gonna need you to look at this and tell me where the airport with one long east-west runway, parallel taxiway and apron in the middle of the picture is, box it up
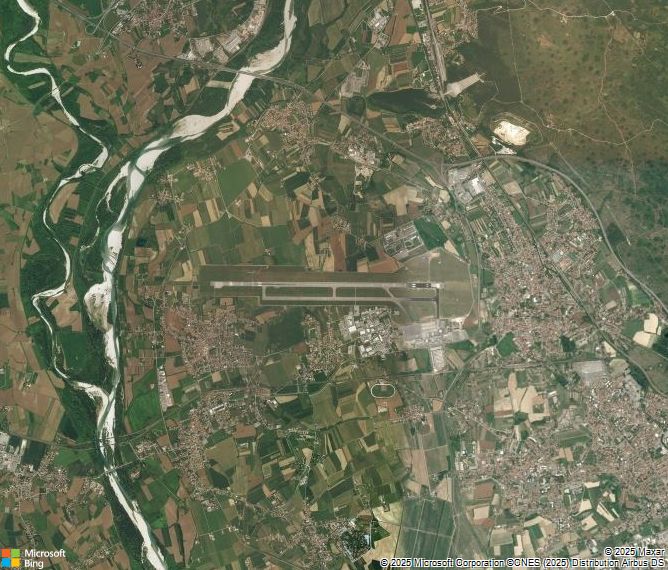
[200,247,474,348]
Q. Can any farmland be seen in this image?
Yes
